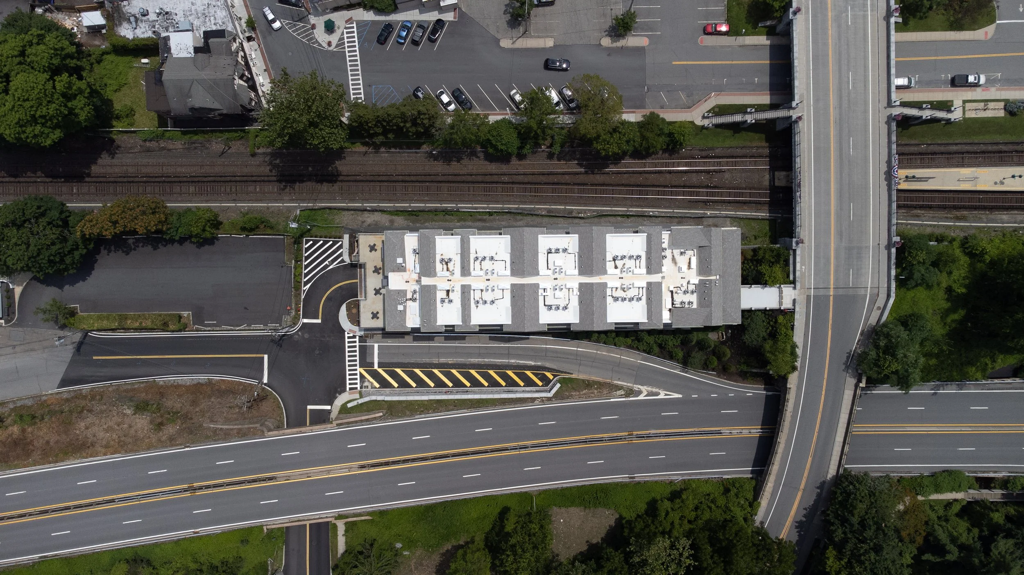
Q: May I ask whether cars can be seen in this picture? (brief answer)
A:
Yes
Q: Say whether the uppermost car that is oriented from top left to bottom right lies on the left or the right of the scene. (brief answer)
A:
left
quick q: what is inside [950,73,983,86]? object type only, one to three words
vehicle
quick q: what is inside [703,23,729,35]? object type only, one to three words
vehicle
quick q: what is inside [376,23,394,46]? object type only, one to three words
car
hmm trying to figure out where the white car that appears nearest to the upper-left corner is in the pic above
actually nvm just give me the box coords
[262,6,282,30]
